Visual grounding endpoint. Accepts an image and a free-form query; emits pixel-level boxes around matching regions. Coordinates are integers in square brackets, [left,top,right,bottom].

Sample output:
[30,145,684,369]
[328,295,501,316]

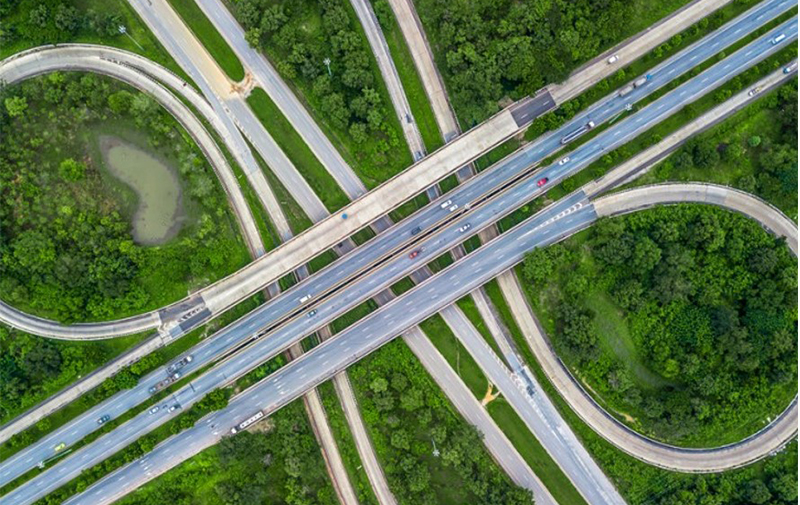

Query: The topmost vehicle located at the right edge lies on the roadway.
[770,32,788,45]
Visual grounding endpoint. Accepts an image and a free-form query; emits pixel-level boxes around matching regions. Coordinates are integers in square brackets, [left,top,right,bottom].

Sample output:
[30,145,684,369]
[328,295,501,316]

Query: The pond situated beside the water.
[108,145,178,243]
